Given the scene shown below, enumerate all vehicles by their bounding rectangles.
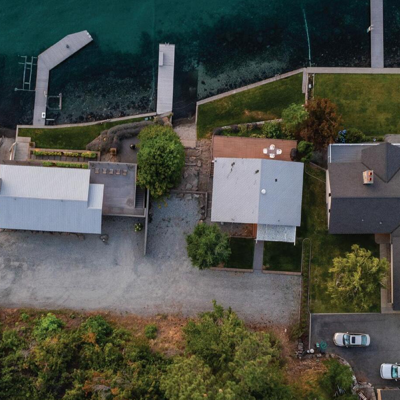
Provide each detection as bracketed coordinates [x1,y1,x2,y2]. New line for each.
[380,363,400,381]
[332,331,370,348]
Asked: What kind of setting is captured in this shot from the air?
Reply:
residential area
